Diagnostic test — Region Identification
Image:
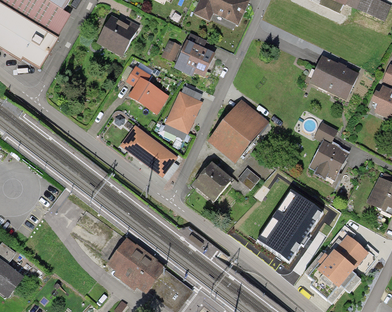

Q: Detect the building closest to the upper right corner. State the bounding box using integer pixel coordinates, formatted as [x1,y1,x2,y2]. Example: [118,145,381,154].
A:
[346,0,392,22]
